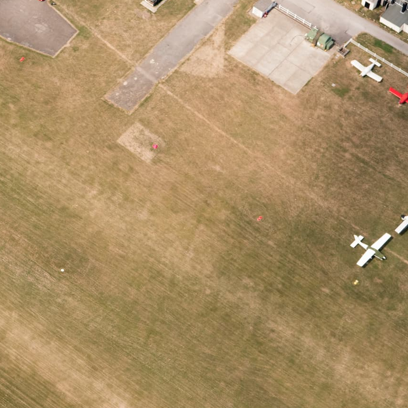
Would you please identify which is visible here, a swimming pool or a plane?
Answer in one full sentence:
Visible in the photo is a plane.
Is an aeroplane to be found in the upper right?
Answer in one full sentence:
Yes, in the upper right there is an aeroplane.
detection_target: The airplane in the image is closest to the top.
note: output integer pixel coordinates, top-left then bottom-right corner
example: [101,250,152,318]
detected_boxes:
[350,54,386,82]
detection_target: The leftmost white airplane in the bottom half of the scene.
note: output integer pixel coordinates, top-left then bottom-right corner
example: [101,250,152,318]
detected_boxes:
[351,233,392,268]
